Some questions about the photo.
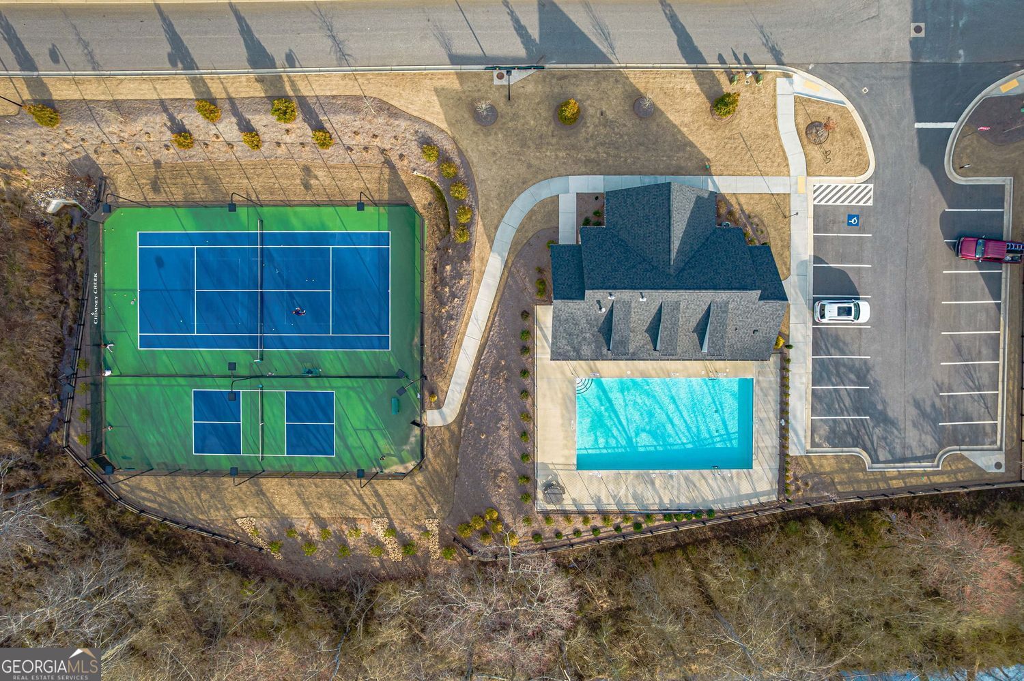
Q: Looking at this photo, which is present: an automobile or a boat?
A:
automobile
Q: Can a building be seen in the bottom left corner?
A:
No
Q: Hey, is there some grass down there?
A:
Yes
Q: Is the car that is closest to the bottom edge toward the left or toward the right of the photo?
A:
right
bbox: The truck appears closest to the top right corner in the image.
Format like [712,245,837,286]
[953,236,1024,264]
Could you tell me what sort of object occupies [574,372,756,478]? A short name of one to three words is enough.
swimming pool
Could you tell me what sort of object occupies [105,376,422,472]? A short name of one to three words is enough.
sports court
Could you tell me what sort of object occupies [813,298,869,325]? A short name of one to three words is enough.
car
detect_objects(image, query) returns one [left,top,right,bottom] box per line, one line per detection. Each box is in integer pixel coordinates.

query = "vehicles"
[953,236,1024,264]
[813,298,869,325]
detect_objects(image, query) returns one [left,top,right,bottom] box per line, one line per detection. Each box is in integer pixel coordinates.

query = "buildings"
[550,181,788,361]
